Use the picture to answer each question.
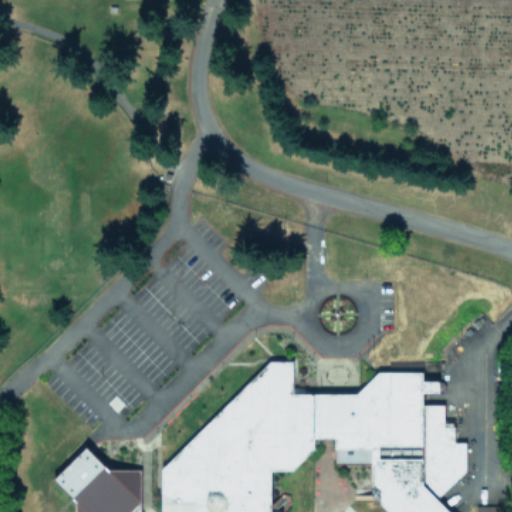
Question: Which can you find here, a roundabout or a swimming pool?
roundabout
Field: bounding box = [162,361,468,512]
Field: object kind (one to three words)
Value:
building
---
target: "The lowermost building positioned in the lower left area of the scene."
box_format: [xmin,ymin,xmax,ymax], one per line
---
[56,448,152,512]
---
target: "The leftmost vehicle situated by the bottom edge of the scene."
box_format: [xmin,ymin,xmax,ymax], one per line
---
[446,494,462,507]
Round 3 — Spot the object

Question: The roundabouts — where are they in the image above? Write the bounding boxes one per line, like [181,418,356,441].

[310,288,366,342]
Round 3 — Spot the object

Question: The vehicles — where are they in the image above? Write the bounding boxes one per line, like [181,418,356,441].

[384,310,394,314]
[320,255,326,266]
[188,256,198,266]
[224,292,236,304]
[220,288,230,298]
[382,282,392,288]
[446,494,462,507]
[228,298,239,309]
[252,276,266,290]
[481,489,488,505]
[320,239,326,250]
[201,270,213,282]
[385,316,394,321]
[381,288,394,294]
